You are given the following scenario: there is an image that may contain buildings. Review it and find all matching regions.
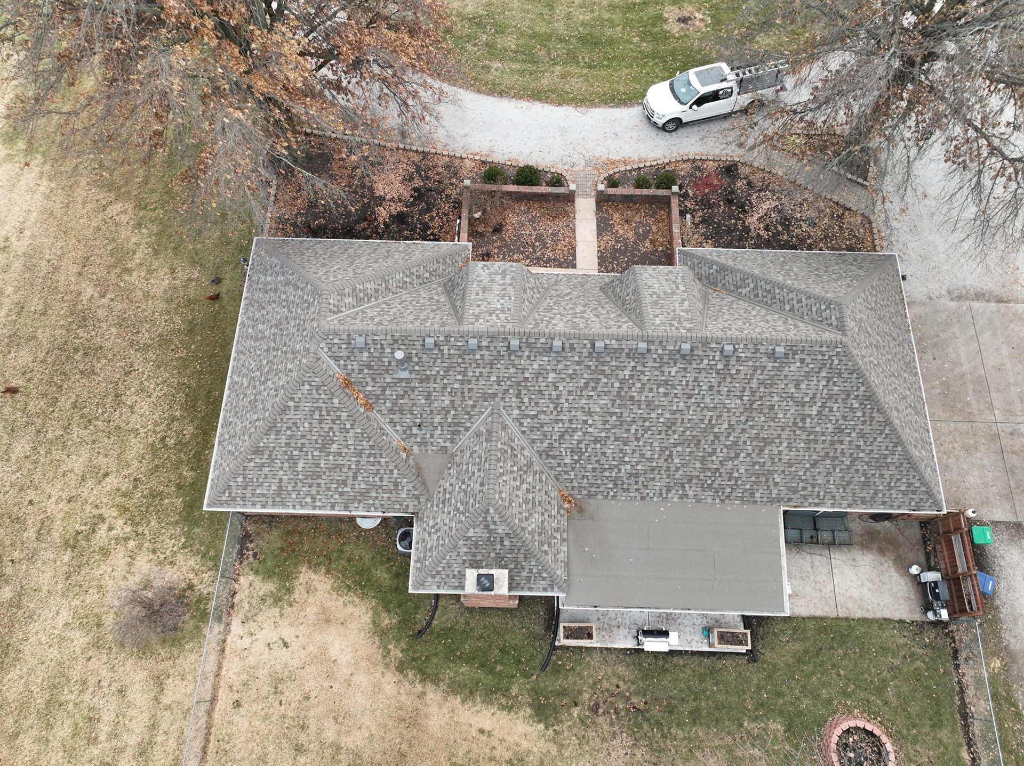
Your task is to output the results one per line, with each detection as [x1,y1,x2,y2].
[203,237,946,615]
